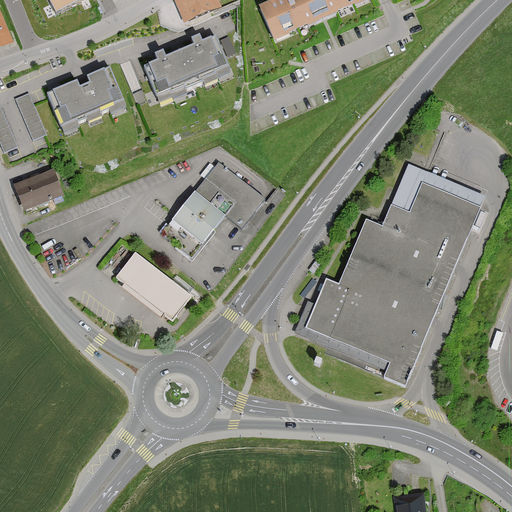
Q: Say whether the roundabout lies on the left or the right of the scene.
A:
left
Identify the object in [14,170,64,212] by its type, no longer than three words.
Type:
house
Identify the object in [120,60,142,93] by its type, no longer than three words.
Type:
building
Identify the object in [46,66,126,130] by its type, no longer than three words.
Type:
building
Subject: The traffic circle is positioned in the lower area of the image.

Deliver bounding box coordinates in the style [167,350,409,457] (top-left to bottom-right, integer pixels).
[132,350,222,440]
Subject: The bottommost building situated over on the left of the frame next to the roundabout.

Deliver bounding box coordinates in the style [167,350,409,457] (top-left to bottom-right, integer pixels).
[116,252,198,318]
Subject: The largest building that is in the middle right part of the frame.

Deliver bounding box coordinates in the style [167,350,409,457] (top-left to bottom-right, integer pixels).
[296,164,488,386]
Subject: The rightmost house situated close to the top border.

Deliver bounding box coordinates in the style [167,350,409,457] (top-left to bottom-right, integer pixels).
[258,0,370,45]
